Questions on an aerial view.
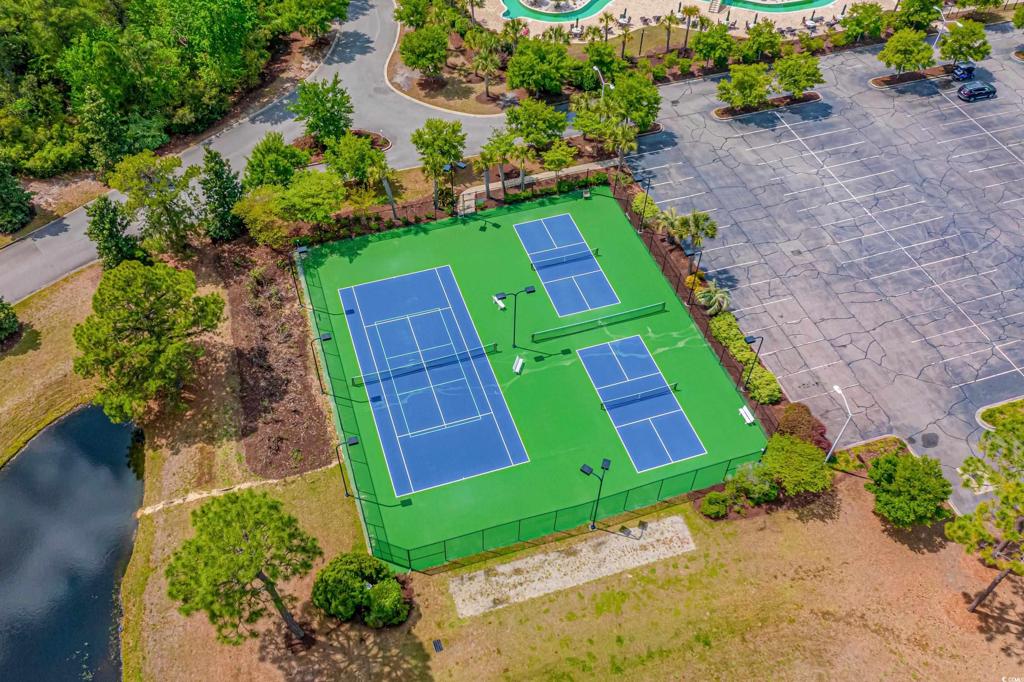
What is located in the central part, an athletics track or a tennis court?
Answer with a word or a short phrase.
tennis court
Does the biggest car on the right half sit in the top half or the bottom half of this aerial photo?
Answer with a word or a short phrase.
top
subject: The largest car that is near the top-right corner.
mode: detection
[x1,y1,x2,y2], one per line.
[958,78,997,99]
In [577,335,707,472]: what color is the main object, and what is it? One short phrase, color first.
blue sports court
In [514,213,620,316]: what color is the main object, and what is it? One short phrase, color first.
blue sports court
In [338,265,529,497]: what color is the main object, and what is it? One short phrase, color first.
blue tennis court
